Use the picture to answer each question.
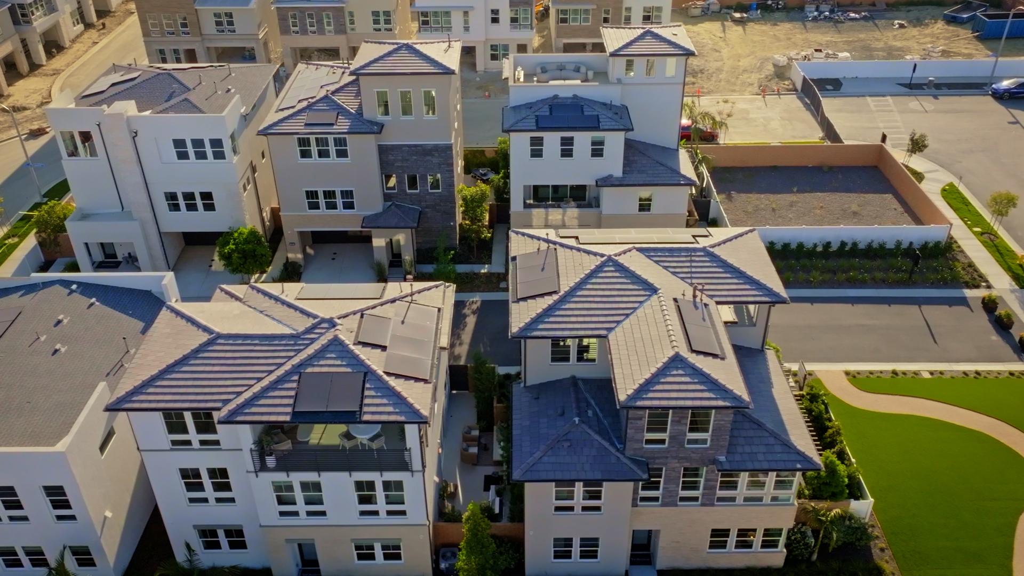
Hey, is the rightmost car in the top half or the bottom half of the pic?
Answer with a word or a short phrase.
top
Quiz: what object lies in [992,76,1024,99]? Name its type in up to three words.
car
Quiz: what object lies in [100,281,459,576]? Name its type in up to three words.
house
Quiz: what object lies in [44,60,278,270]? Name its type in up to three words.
house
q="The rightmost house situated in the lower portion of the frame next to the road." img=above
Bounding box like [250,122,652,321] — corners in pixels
[507,226,828,576]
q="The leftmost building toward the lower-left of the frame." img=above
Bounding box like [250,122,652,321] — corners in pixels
[0,272,180,576]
